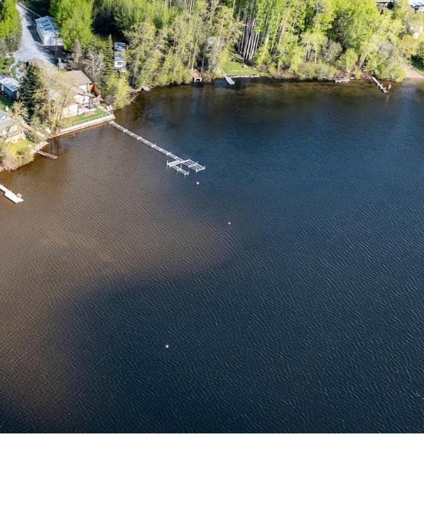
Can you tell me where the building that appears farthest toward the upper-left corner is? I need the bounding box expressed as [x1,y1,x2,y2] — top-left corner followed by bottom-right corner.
[37,16,64,45]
